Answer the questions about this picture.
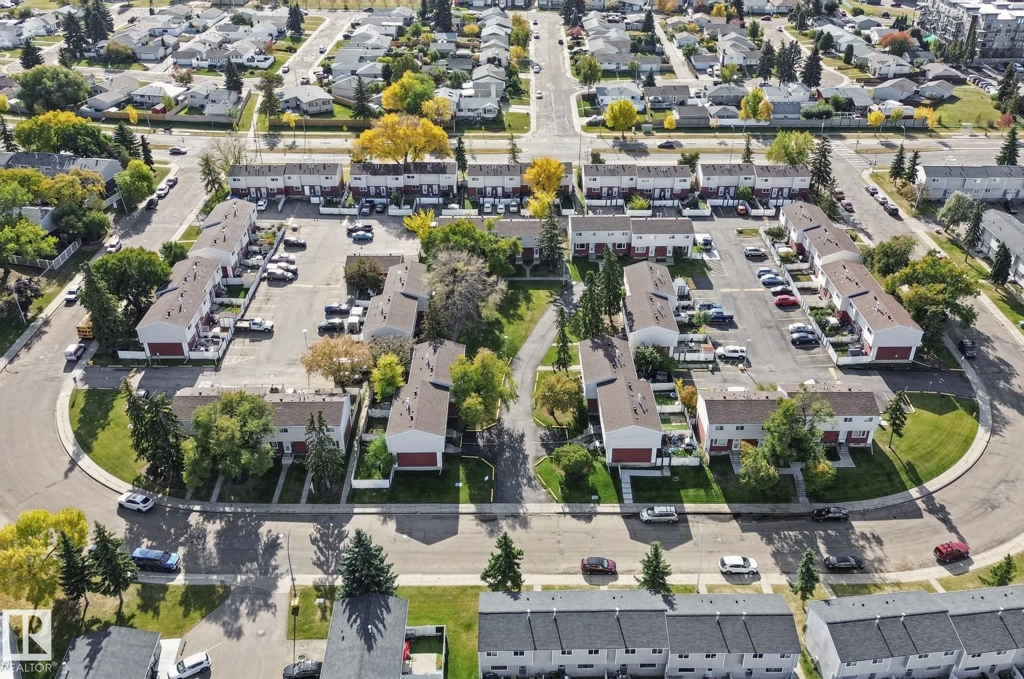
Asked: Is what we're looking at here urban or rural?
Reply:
urban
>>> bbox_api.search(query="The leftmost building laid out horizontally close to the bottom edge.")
[60,633,166,679]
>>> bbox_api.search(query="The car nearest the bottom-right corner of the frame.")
[932,543,975,565]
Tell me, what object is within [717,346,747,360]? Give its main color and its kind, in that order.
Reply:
white car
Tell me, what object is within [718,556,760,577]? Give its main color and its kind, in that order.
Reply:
white car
